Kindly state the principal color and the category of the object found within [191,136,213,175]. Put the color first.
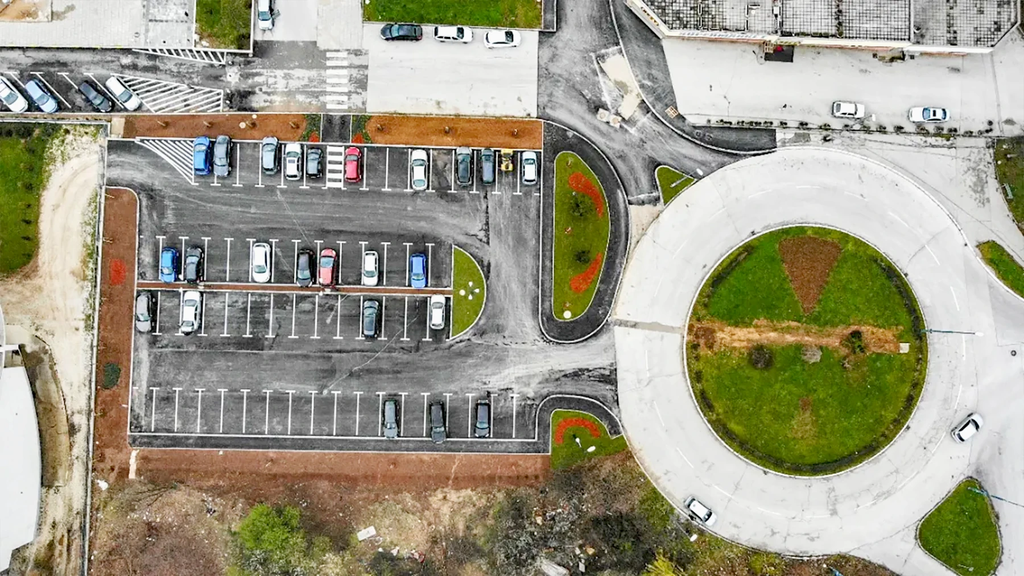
blue car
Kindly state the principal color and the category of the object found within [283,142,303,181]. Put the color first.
white car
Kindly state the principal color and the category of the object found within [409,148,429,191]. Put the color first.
white car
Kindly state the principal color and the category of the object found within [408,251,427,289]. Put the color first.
blue car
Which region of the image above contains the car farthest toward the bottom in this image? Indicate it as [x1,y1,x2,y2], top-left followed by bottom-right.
[681,493,718,527]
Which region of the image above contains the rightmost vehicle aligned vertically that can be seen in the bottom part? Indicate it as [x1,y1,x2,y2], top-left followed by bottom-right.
[473,398,492,439]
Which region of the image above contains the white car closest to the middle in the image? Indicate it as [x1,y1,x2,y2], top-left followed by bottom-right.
[428,293,447,331]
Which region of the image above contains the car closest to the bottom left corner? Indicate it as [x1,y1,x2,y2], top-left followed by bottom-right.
[132,292,156,333]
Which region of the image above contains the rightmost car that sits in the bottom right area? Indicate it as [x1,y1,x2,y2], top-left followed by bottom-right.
[947,410,984,444]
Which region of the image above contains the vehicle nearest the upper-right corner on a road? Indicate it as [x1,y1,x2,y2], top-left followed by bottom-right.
[905,103,951,124]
